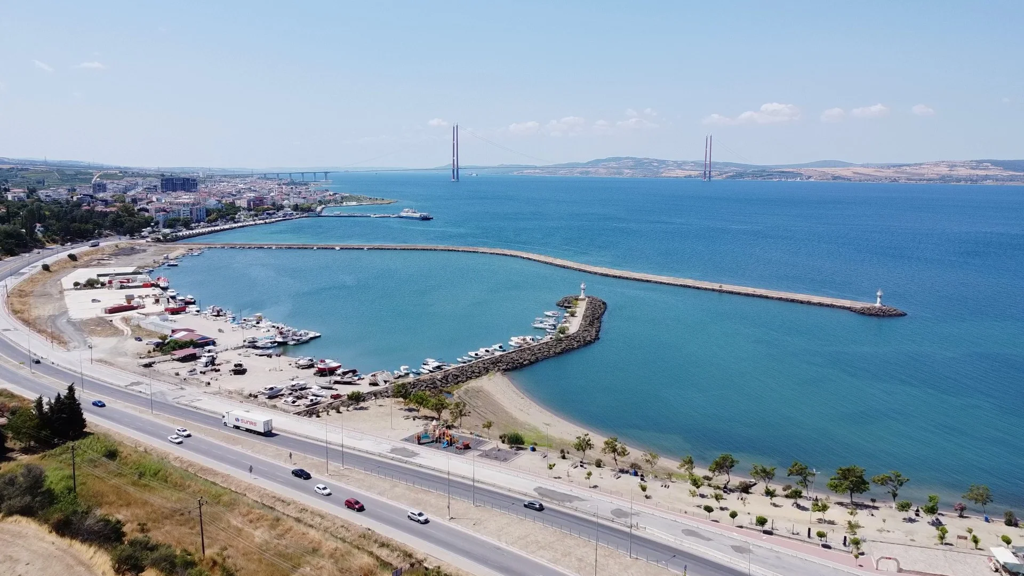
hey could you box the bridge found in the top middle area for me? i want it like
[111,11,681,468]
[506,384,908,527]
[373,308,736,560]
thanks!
[186,122,794,181]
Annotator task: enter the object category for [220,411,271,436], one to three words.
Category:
truck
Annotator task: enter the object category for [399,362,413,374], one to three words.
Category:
boat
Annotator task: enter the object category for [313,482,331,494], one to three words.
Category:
vehicle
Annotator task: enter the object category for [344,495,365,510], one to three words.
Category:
car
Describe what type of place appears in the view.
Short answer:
port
